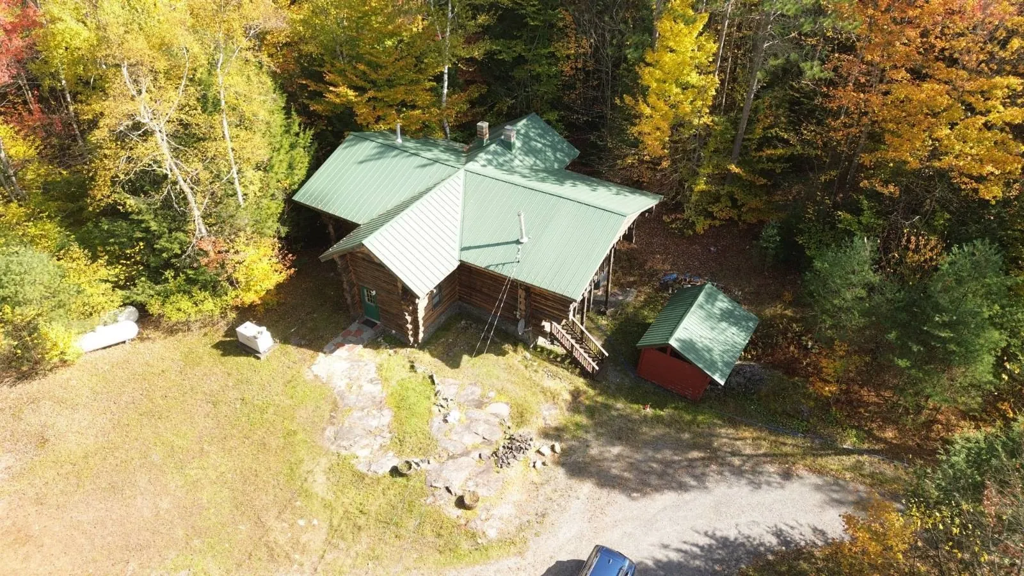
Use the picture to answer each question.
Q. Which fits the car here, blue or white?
blue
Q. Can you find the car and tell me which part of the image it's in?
bottom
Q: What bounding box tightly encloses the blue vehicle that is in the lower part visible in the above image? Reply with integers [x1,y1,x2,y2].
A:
[578,543,636,576]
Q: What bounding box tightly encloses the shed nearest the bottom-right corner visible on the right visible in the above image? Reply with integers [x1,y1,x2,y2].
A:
[631,282,754,402]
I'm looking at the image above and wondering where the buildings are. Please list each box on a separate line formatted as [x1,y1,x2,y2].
[631,282,754,402]
[289,115,662,357]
